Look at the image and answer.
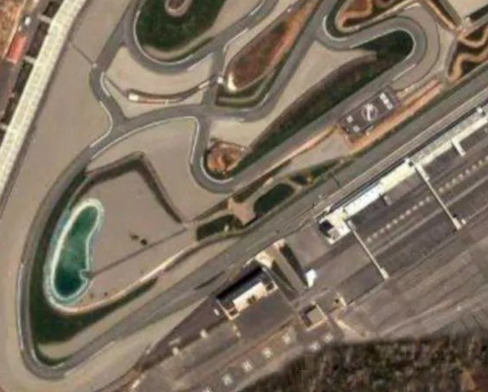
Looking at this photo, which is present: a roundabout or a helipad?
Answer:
helipad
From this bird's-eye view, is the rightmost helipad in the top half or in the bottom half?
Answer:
top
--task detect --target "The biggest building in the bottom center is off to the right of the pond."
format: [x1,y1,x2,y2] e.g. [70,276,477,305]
[216,265,277,319]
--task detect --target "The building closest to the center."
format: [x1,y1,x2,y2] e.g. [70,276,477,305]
[246,238,286,268]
